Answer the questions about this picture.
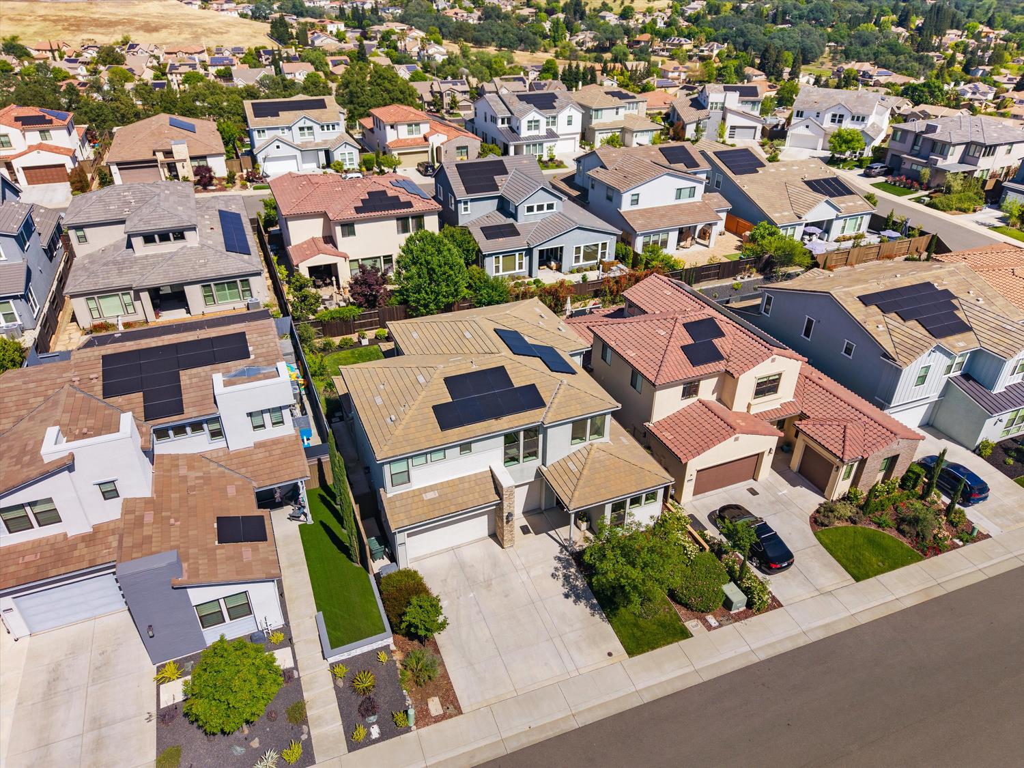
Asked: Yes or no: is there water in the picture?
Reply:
No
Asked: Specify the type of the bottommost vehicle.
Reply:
car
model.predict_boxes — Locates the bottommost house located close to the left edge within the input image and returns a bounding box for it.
[0,301,315,664]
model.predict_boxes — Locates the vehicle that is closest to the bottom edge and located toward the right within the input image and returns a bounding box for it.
[721,502,800,561]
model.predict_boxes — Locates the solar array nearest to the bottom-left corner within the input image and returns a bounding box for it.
[216,513,268,543]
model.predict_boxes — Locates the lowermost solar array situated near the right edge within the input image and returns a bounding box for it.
[858,281,975,338]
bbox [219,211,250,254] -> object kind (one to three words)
solar array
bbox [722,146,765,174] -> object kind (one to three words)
solar array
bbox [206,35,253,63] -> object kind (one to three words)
house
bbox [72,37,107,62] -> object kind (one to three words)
house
